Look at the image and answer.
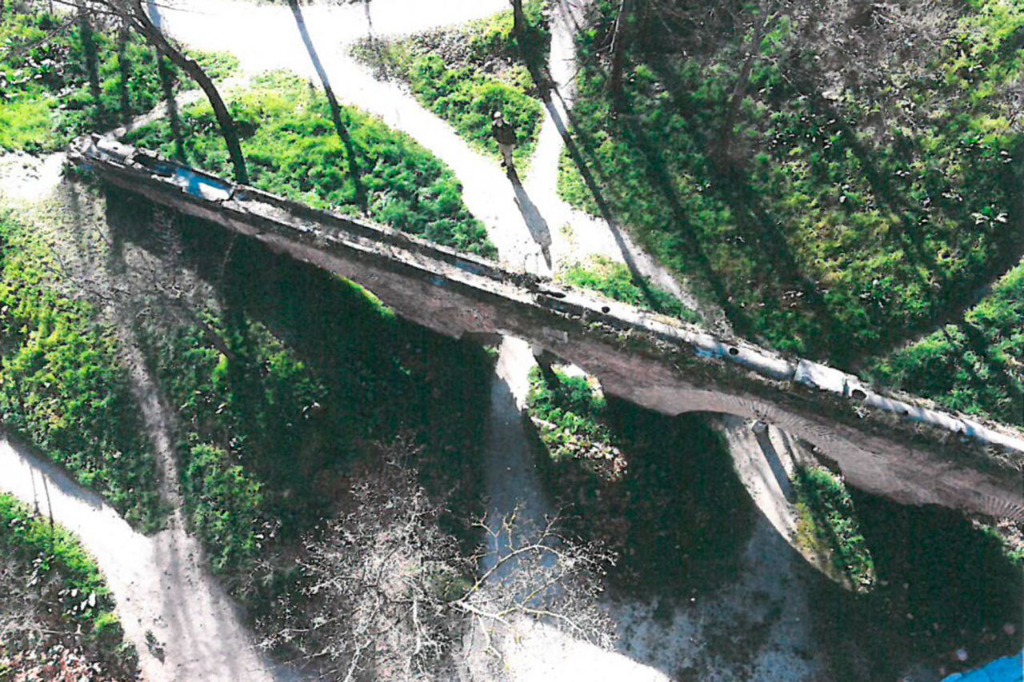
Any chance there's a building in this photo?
No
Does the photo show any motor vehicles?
No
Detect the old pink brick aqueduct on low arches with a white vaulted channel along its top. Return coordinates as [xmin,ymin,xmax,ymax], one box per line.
[64,127,1024,521]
